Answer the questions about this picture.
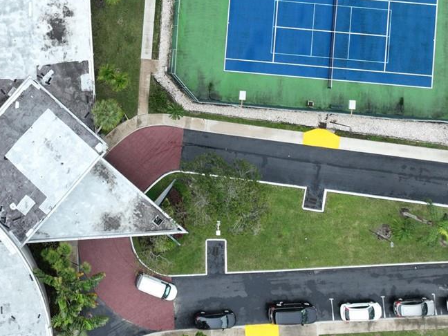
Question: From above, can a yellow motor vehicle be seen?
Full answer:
No, the picture doesn't show any yellow motor vehicle.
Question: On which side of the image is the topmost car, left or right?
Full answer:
It is on the left.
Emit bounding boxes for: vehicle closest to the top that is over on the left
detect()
[134,272,176,300]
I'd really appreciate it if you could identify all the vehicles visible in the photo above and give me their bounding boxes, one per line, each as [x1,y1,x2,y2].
[193,308,235,330]
[338,300,381,322]
[134,272,176,300]
[392,296,434,319]
[267,301,316,326]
